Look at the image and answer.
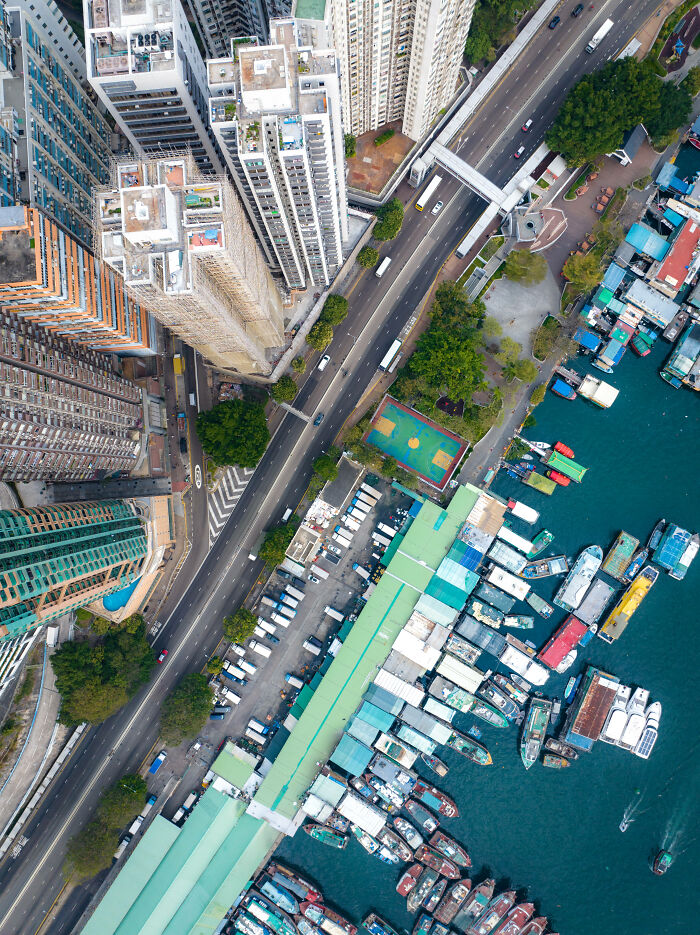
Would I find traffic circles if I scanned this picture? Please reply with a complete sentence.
No, the photo shows no traffic circle.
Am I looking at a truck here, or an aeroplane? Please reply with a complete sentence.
This aerial view contains a truck.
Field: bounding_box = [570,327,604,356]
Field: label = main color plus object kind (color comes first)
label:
blue boat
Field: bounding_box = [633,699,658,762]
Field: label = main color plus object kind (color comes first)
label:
white boat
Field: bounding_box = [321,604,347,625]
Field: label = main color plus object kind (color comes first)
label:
white truck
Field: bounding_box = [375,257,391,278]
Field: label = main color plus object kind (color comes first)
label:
white vehicle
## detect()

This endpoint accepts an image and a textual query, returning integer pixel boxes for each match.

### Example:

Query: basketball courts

[358,393,472,493]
